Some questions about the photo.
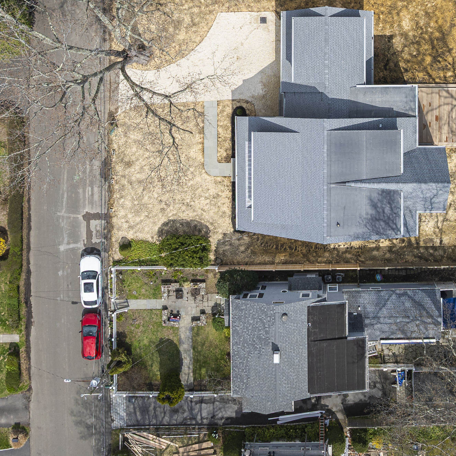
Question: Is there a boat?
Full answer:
No, there's no boat here.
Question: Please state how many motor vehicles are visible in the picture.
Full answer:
In total, there are 2 motor vehicles in the scene.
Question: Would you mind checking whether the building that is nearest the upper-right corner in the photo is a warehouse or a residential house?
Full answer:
In the photo, the building that is nearest the upper-right corner shows up as a residential house.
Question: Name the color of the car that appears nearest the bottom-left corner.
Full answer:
The car that appears nearest the bottom-left corner looks red in the image.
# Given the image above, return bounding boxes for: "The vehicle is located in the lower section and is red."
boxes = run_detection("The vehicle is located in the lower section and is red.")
[77,313,103,362]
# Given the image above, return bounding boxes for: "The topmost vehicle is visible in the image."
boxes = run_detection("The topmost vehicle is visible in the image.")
[76,252,102,305]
